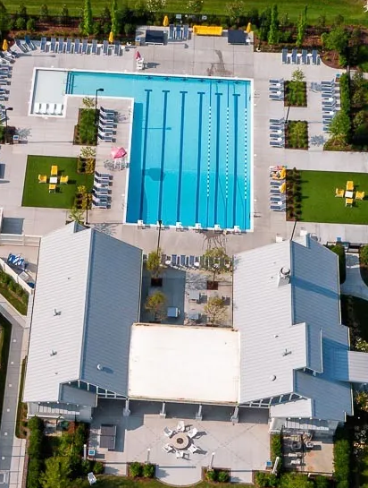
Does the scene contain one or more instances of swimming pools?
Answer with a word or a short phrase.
Yes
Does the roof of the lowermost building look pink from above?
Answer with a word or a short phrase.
No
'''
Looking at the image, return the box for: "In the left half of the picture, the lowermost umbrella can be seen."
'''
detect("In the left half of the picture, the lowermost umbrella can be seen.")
[105,144,123,159]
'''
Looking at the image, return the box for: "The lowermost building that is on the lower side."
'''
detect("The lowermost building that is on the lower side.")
[20,223,368,442]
